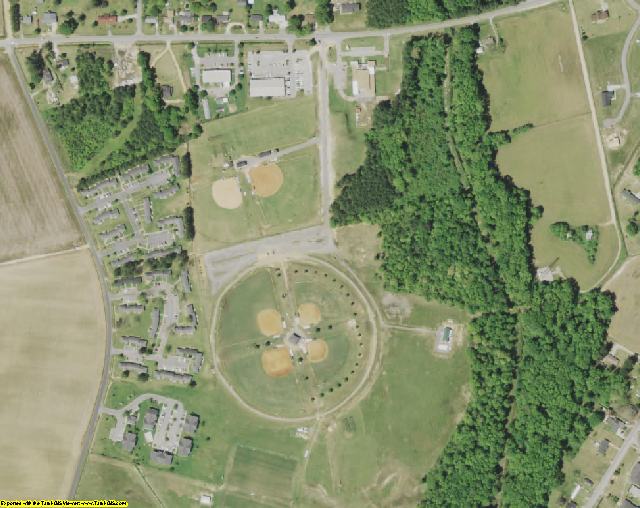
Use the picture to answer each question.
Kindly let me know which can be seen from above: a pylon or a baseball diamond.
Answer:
baseball diamond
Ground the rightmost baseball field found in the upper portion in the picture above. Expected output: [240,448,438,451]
[246,143,323,231]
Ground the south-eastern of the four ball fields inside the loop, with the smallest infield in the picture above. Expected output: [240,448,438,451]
[302,330,354,386]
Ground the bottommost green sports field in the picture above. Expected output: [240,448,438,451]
[228,446,298,501]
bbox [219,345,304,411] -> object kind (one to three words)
baseball field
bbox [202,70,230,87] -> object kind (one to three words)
building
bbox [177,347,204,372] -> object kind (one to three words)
building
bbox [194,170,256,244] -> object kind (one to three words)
baseball field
